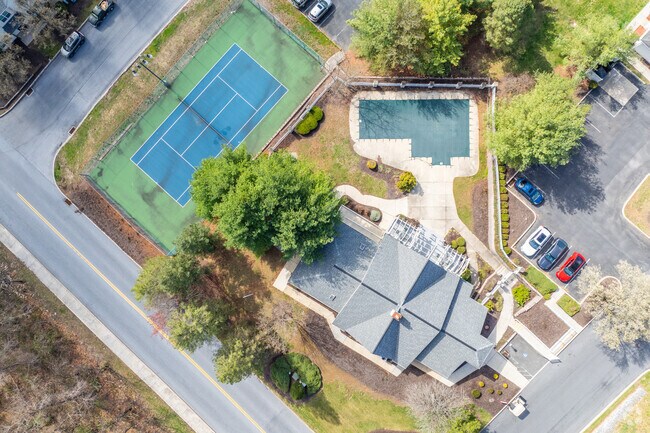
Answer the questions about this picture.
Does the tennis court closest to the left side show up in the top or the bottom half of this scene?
top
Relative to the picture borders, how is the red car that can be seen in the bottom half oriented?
diagonally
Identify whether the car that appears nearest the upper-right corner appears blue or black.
blue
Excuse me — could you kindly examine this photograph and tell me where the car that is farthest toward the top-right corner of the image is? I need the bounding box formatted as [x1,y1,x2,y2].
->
[514,175,547,205]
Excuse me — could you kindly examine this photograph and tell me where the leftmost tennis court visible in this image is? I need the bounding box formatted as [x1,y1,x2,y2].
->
[86,1,324,255]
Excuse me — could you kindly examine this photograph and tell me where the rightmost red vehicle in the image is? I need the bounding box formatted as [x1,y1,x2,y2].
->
[557,251,590,283]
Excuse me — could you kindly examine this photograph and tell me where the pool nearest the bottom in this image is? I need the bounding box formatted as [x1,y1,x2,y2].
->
[355,95,475,170]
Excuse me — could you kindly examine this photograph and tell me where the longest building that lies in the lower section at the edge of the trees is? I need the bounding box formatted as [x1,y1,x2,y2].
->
[289,208,493,385]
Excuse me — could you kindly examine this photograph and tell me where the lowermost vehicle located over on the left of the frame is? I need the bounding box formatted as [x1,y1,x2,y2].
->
[54,26,84,58]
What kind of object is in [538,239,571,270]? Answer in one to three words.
car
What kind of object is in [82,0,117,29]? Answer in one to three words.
truck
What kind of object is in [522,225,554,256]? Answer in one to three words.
car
